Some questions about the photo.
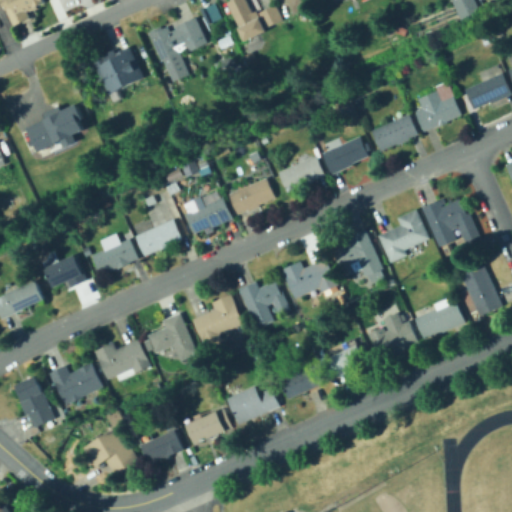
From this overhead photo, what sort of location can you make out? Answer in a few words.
residential area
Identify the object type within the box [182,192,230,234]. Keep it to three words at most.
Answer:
house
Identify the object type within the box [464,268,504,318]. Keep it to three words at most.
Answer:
house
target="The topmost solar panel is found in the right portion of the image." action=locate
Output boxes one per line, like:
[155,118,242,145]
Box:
[474,86,508,106]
